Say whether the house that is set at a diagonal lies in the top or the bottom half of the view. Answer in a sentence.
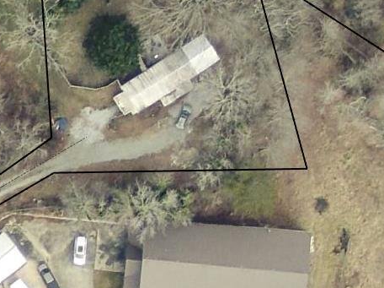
The top half of the photo is where the house that is set at a diagonal is.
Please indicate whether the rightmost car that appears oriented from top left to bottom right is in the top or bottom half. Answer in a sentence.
You can find the rightmost car that appears oriented from top left to bottom right in the bottom half.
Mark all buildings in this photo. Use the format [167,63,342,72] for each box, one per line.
[0,233,26,282]
[124,223,312,288]
[115,34,220,118]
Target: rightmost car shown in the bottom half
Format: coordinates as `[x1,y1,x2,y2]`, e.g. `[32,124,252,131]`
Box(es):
[73,236,86,266]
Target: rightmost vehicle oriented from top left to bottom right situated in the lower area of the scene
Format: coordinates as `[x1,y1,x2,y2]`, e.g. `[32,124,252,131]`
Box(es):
[37,262,60,288]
